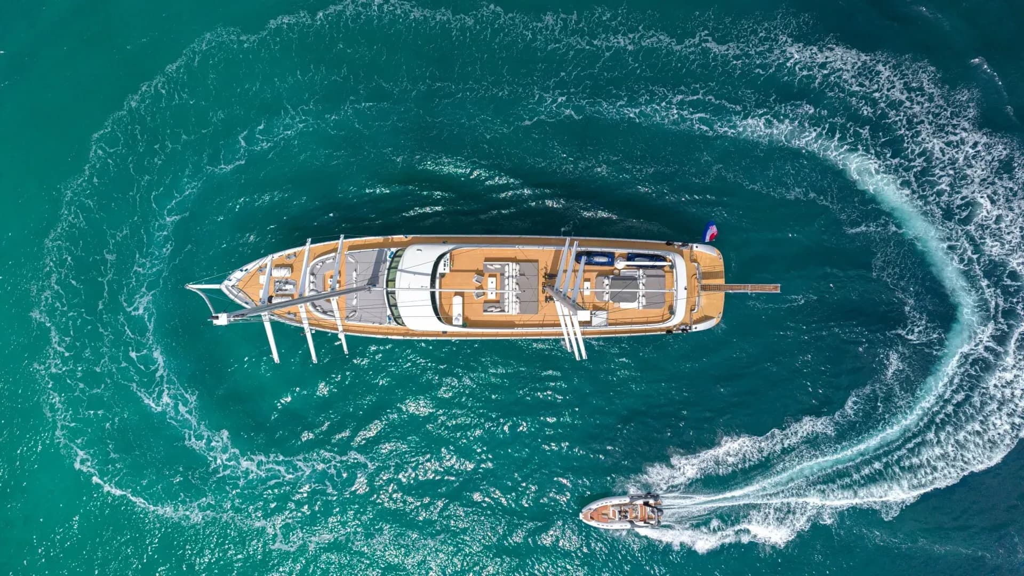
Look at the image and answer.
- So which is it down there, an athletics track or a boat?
boat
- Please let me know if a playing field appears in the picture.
No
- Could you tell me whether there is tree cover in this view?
No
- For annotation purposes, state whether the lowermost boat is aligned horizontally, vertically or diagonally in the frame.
horizontally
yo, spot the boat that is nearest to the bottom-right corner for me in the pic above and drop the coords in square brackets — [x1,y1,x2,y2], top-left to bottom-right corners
[580,492,665,529]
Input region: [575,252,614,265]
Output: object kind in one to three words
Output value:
boat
